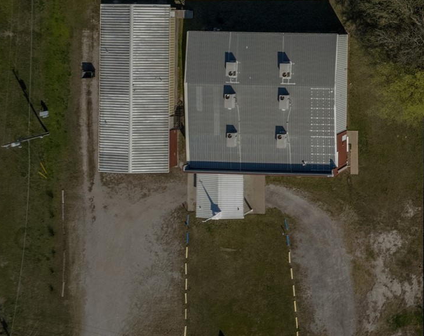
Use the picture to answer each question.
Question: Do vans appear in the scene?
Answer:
No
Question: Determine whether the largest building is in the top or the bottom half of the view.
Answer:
top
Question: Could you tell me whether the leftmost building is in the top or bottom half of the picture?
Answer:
top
